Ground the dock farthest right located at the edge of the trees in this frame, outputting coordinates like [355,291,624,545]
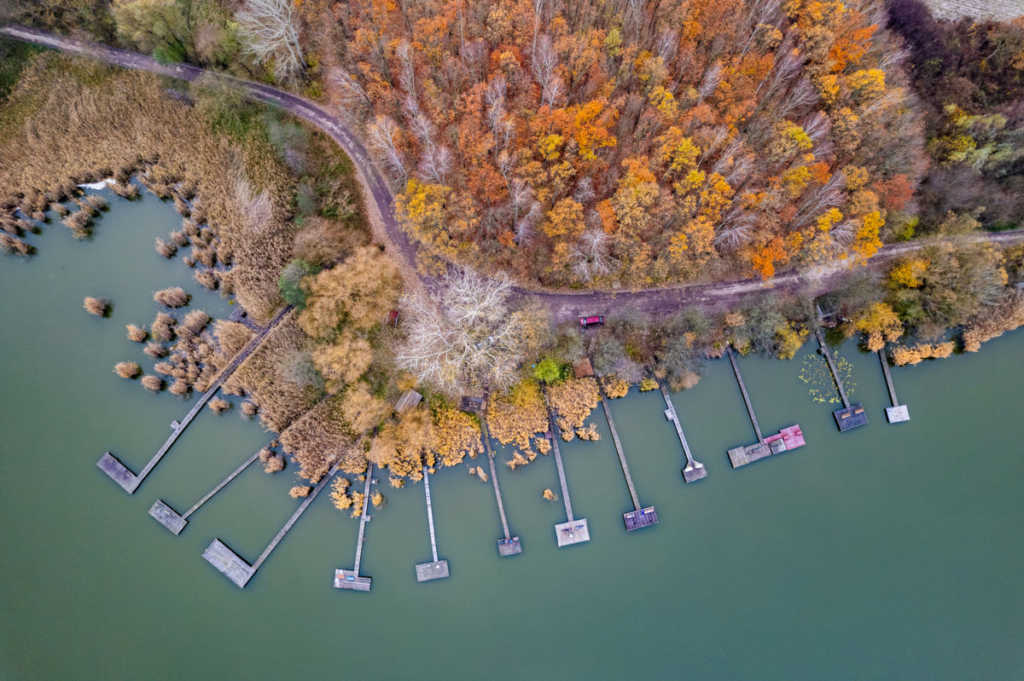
[876,336,910,423]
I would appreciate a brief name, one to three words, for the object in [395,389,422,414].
shed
